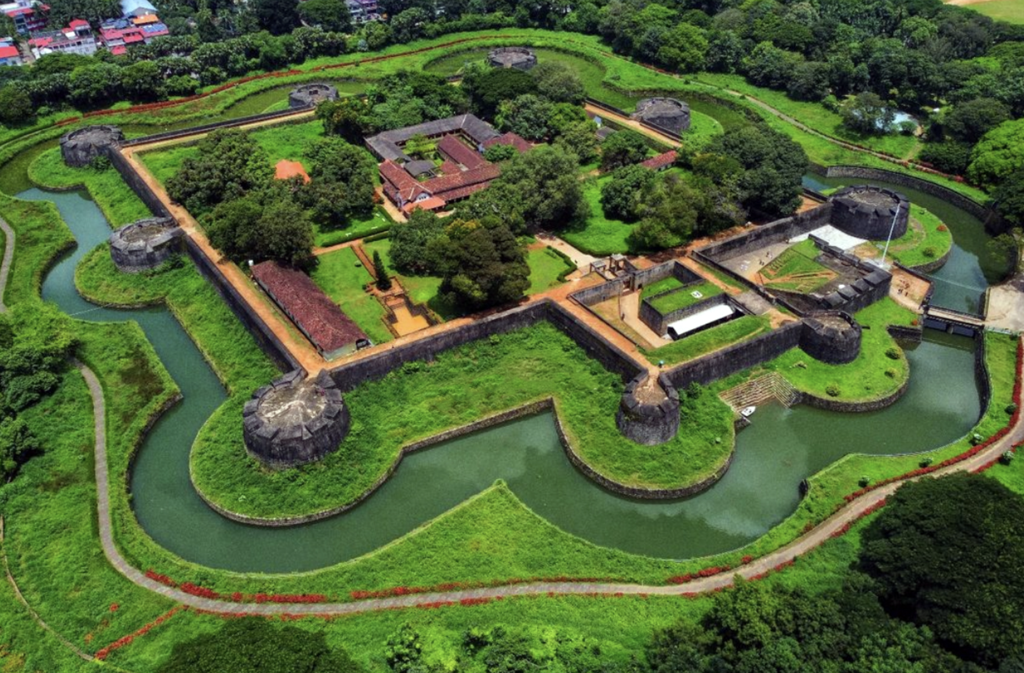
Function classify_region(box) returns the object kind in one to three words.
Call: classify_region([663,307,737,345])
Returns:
shed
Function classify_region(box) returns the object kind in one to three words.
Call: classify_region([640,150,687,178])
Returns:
shed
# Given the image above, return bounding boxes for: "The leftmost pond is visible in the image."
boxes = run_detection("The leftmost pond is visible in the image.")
[370,290,443,335]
